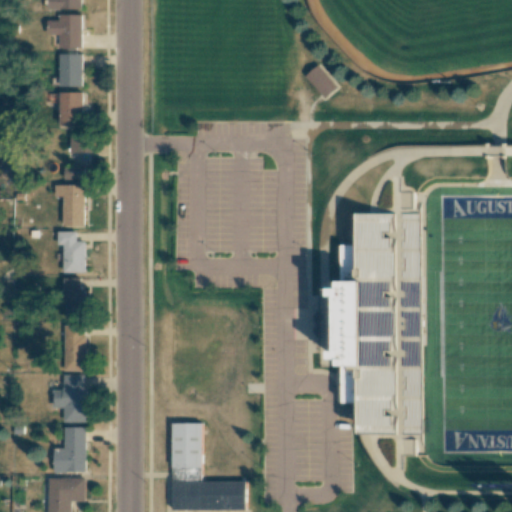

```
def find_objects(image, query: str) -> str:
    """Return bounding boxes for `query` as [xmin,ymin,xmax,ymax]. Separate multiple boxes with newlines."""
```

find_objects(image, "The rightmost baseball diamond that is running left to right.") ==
[307,0,512,80]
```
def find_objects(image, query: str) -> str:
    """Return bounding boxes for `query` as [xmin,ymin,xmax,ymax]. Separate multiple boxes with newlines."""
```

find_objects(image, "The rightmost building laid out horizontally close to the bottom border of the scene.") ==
[172,481,250,510]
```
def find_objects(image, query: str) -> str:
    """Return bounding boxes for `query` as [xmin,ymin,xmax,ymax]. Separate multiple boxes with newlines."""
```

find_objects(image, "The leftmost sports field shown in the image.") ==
[156,0,286,112]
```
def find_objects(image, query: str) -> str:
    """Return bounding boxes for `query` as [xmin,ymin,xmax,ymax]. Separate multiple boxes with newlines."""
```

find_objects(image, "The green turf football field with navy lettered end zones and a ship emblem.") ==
[426,187,512,468]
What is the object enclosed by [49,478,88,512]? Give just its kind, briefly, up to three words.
house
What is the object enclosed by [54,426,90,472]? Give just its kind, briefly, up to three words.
house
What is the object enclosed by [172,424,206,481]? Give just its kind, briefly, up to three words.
building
